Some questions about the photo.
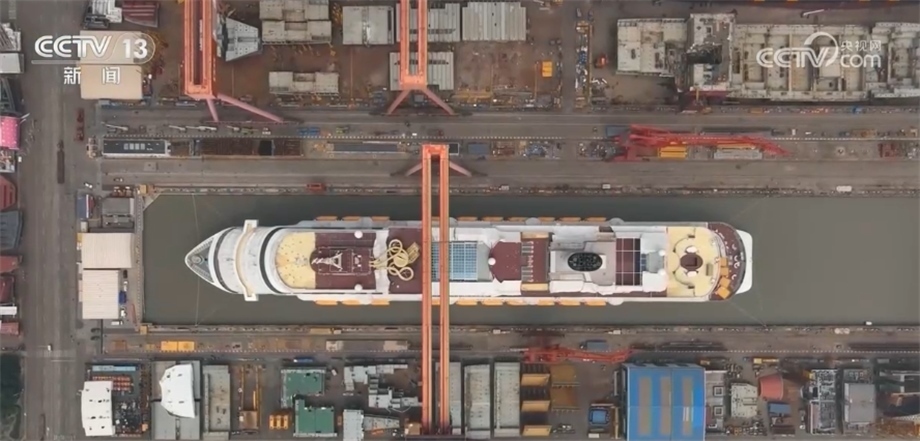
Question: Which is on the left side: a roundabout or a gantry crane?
gantry crane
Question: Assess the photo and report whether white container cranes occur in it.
No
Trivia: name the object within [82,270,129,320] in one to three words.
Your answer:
building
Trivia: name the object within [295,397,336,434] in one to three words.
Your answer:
shed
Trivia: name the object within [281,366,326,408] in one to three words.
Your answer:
shed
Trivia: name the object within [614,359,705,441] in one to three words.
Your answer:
building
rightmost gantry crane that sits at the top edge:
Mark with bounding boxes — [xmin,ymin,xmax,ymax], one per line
[373,0,466,114]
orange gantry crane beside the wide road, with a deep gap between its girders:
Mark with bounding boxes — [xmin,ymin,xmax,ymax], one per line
[181,0,298,123]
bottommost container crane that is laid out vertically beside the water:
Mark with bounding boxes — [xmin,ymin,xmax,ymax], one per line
[391,145,486,441]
